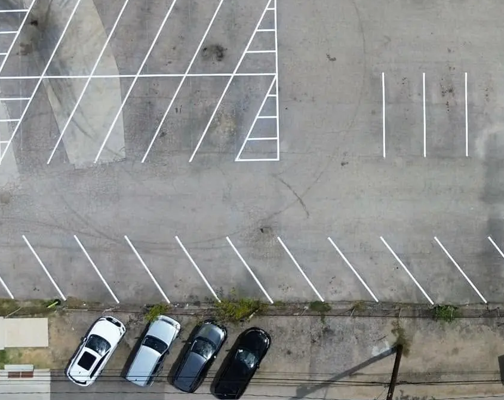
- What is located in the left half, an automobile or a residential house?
automobile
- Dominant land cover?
paved ground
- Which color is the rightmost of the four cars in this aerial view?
black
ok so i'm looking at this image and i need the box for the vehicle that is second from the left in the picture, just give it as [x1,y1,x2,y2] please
[125,310,183,388]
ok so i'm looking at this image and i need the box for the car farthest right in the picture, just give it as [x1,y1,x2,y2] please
[215,322,273,400]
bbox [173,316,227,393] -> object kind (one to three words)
car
